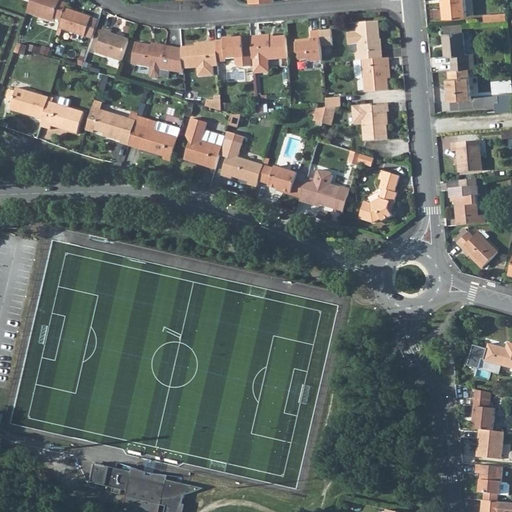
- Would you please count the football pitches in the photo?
one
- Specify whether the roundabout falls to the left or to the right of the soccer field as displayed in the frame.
right of it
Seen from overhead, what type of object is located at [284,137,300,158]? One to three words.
swimming pool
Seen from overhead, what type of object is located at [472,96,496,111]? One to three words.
shed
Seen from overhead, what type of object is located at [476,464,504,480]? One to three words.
house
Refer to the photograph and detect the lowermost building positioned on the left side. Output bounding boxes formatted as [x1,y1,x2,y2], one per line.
[90,464,204,512]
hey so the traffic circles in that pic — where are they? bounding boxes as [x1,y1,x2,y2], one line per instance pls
[376,244,444,312]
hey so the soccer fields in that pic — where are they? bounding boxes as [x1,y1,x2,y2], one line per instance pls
[10,242,338,489]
